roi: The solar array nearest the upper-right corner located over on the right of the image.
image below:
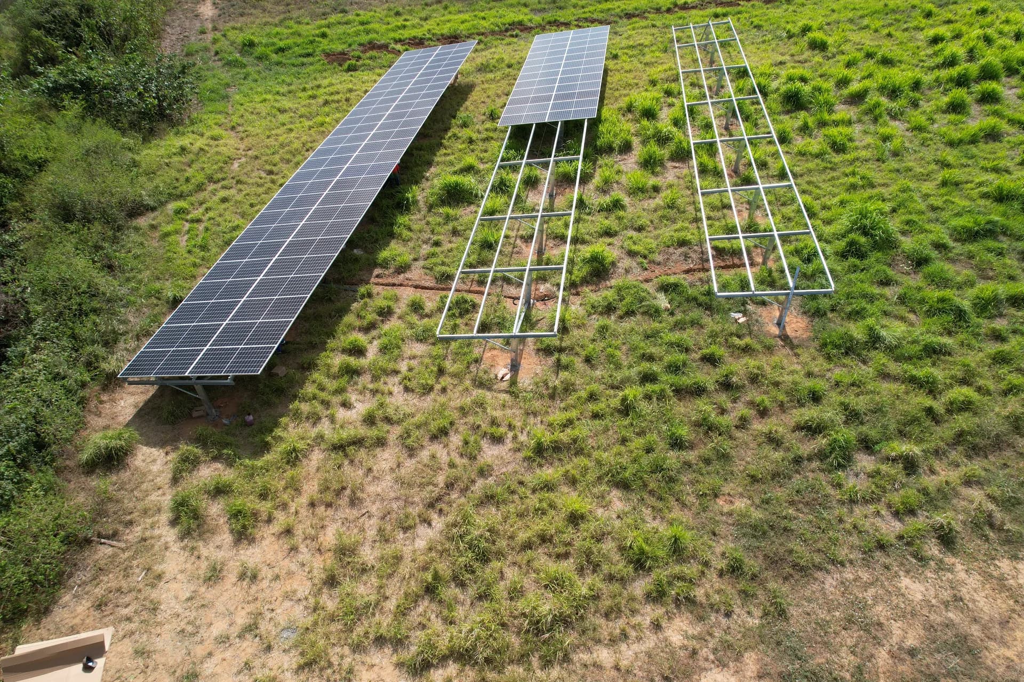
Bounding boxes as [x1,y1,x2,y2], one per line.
[673,19,833,331]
